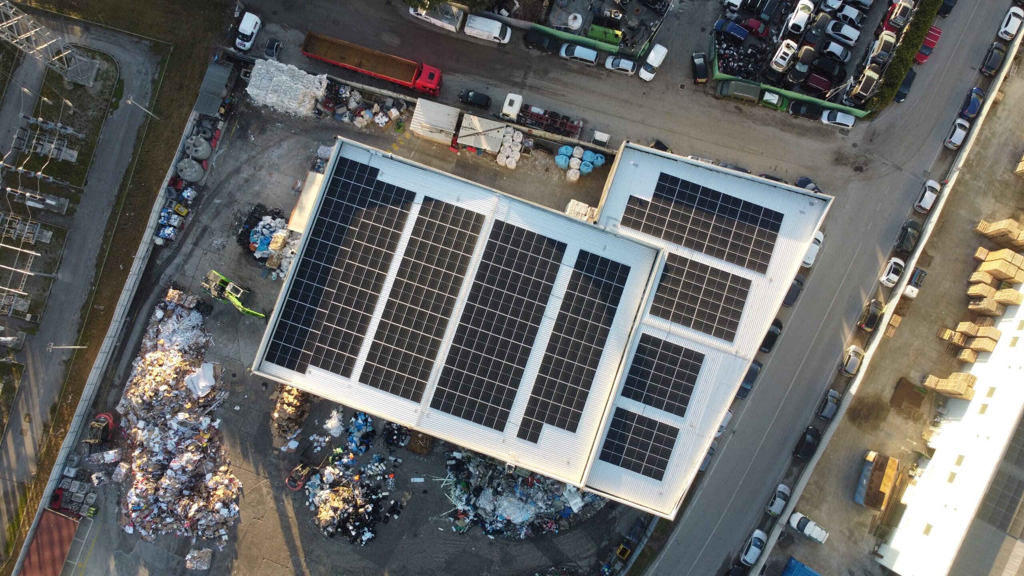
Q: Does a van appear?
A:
Yes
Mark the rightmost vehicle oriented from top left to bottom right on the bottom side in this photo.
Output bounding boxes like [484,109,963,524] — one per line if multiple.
[788,510,828,544]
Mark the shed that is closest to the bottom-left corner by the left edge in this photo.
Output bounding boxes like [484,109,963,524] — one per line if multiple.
[21,508,84,576]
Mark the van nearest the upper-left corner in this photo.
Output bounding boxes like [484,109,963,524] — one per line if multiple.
[236,11,264,51]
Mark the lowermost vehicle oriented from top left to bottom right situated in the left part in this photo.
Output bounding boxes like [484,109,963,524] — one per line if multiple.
[197,267,274,324]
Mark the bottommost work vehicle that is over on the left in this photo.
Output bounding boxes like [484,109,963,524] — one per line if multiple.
[288,454,318,487]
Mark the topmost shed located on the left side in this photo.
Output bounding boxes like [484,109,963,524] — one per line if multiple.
[200,61,236,100]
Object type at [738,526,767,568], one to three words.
car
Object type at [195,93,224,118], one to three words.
shed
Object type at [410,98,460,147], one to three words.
shed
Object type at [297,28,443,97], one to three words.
truck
